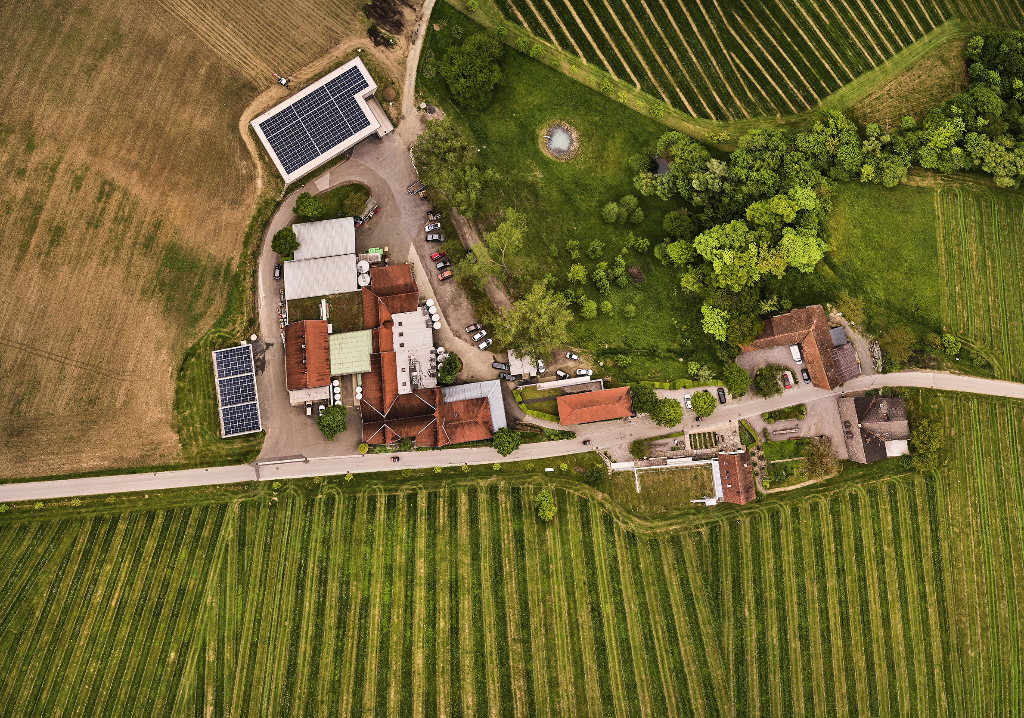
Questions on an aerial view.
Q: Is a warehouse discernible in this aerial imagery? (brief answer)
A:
Yes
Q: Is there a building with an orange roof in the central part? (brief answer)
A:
Yes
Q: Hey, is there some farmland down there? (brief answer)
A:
Yes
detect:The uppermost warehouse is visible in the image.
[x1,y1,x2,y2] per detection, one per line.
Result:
[250,56,383,187]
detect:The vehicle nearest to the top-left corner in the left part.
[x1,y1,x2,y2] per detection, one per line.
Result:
[271,70,290,87]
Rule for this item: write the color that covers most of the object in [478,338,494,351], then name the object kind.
white vehicle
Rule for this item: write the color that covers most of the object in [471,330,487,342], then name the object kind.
white vehicle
